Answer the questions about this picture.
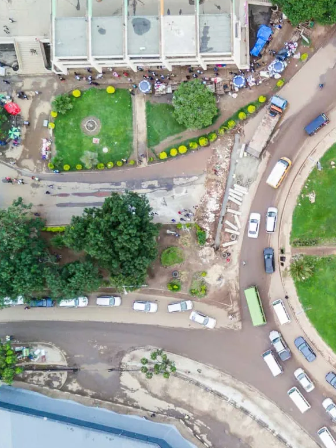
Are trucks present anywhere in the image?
Yes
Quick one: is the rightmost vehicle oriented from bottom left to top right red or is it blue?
blue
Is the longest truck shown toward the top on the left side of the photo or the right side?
right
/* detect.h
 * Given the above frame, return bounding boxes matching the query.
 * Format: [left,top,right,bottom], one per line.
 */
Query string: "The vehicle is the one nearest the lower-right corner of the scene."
[318,424,336,448]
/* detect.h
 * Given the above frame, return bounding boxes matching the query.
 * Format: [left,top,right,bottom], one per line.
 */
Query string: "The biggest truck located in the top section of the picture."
[247,95,287,158]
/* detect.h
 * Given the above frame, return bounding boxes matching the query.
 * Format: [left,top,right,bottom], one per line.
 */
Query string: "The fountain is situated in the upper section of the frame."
[80,116,100,136]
